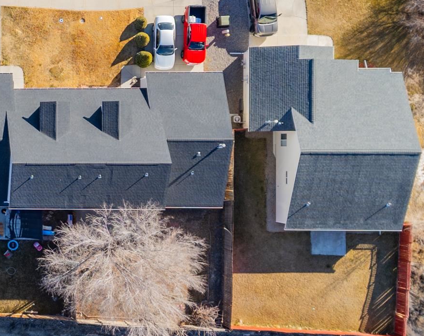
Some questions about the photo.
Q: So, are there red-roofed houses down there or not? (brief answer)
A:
No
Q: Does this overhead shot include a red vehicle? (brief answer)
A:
Yes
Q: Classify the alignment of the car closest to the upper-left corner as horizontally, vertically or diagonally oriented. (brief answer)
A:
vertically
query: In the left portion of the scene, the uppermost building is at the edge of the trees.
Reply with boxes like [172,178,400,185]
[0,71,235,210]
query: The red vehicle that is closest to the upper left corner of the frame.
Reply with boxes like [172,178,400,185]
[180,5,207,64]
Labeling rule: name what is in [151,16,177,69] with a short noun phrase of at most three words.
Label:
car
